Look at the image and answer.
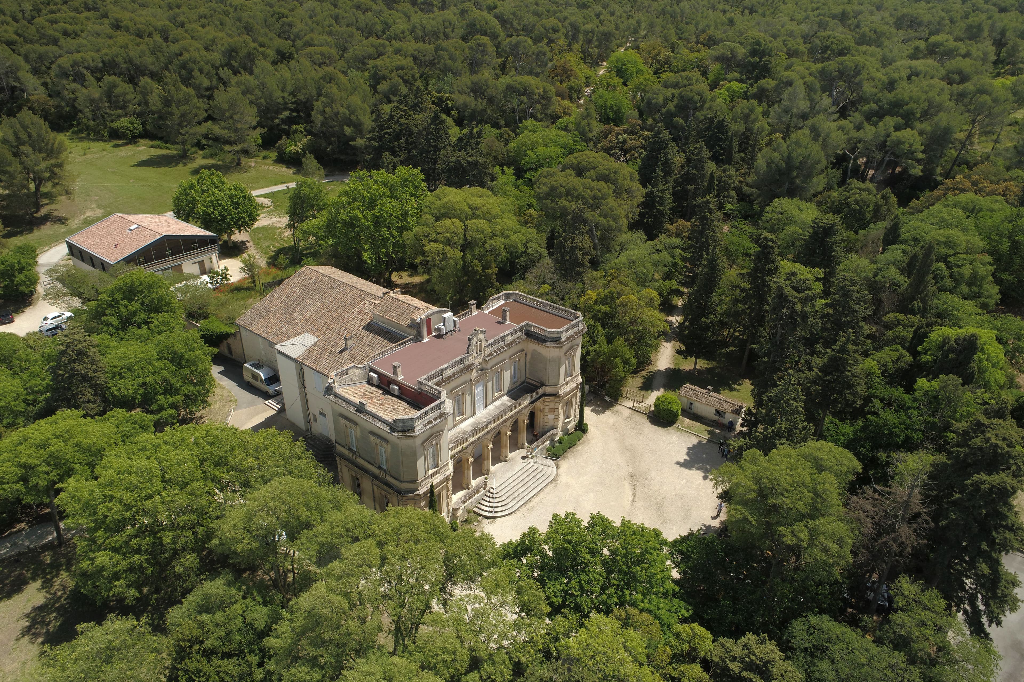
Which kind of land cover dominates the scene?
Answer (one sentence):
What you mostly see from above here is trees.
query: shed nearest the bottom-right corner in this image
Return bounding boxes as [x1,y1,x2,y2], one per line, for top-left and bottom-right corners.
[677,380,753,430]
